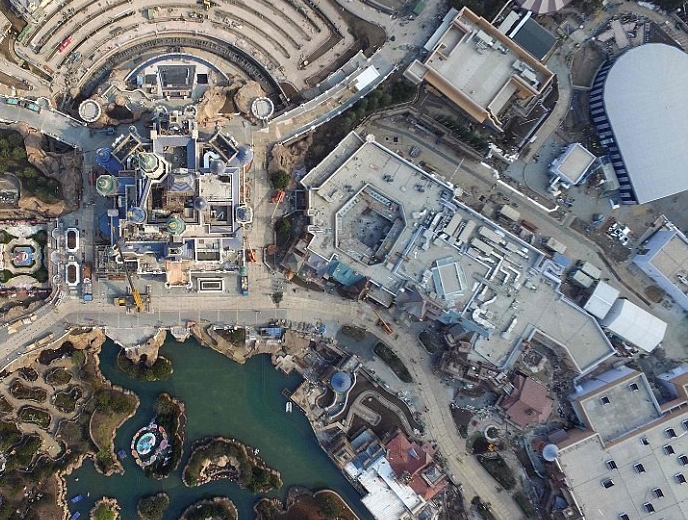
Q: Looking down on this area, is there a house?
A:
Yes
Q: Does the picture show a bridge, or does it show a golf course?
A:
bridge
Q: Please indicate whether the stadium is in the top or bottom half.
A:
top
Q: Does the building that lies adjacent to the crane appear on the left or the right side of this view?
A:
left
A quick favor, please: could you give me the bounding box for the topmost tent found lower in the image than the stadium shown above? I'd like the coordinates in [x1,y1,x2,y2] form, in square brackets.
[582,281,619,319]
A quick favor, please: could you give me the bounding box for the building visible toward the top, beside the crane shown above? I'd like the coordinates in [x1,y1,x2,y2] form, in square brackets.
[93,115,255,291]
